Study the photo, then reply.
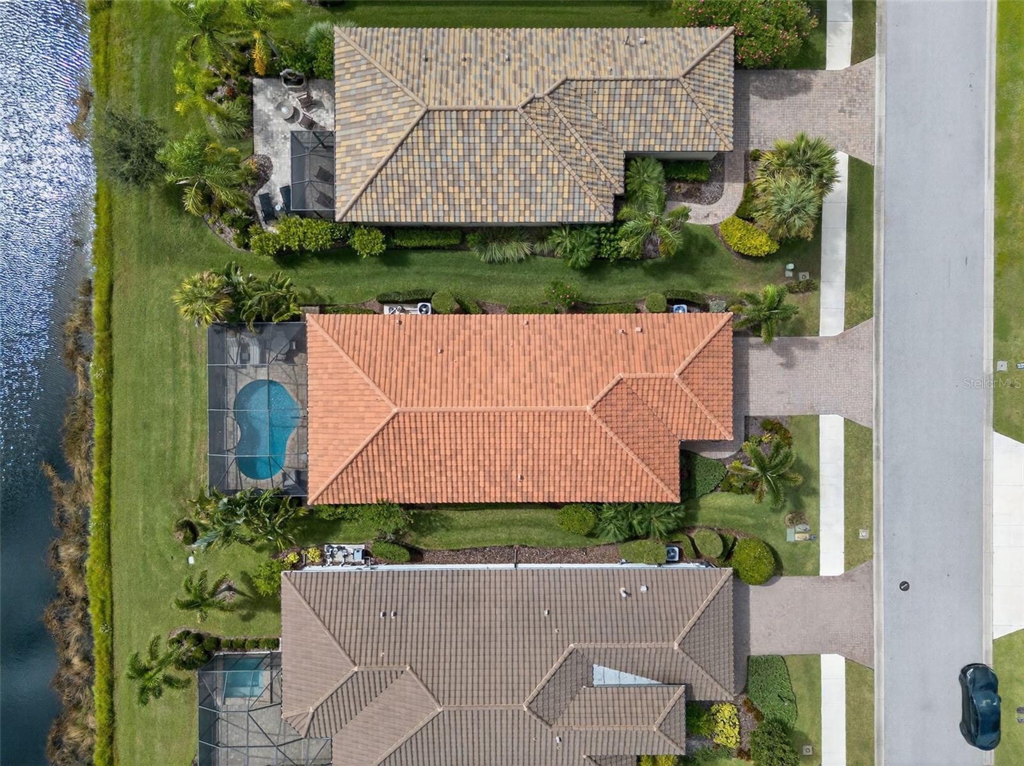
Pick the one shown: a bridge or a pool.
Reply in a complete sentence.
The one in the frame is a pool.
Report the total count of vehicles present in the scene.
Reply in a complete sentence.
The picture shows 1 vehicle.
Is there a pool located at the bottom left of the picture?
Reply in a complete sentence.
Yes, a pool is visible at the bottom left of the picture.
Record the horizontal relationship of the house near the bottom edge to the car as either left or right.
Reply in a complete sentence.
Relative to the car, the house near the bottom edge is on the left.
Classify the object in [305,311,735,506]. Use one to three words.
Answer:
house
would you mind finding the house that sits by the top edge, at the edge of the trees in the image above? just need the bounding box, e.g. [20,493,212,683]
[332,23,737,225]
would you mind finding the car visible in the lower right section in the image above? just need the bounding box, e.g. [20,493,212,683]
[955,664,1004,751]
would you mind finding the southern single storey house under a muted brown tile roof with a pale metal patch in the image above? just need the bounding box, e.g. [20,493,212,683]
[279,551,737,766]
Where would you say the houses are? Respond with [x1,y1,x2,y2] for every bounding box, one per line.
[305,311,735,506]
[279,551,737,766]
[332,23,737,225]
